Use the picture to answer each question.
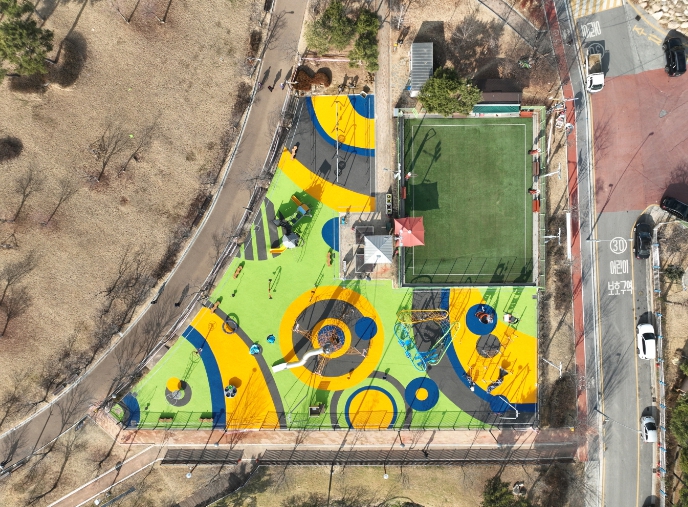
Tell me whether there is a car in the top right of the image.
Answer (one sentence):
Yes, a car can be seen in the top right of the image.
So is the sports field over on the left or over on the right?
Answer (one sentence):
The sports field is on the right side of the image.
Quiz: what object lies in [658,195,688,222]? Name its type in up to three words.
car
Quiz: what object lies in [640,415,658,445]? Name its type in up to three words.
car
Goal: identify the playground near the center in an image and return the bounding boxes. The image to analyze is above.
[108,95,539,431]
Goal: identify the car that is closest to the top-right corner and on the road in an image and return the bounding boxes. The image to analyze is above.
[666,36,688,77]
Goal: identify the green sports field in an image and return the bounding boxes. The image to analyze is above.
[398,111,540,284]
